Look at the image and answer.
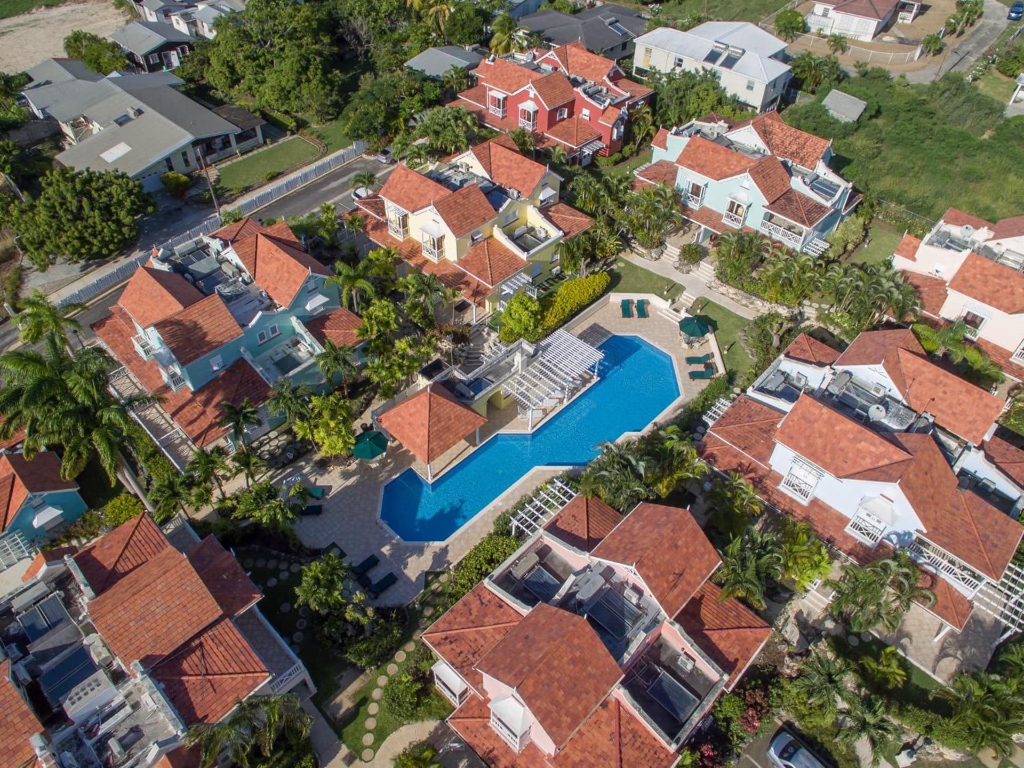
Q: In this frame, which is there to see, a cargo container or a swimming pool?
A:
swimming pool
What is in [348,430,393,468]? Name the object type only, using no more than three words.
umbrella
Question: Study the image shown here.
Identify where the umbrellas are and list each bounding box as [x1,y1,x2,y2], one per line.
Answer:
[675,314,712,347]
[348,430,393,468]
